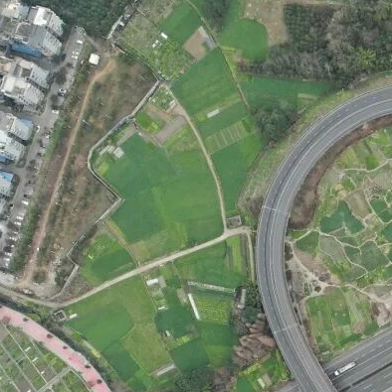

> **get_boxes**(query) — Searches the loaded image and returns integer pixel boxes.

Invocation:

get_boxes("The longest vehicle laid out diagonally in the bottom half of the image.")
[333,362,355,376]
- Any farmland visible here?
Yes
